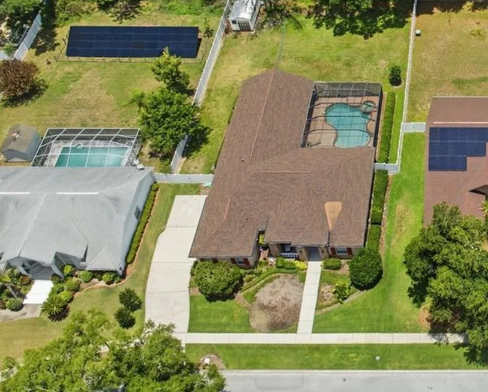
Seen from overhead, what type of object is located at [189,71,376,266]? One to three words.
house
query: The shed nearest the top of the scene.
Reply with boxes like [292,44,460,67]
[229,0,263,26]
